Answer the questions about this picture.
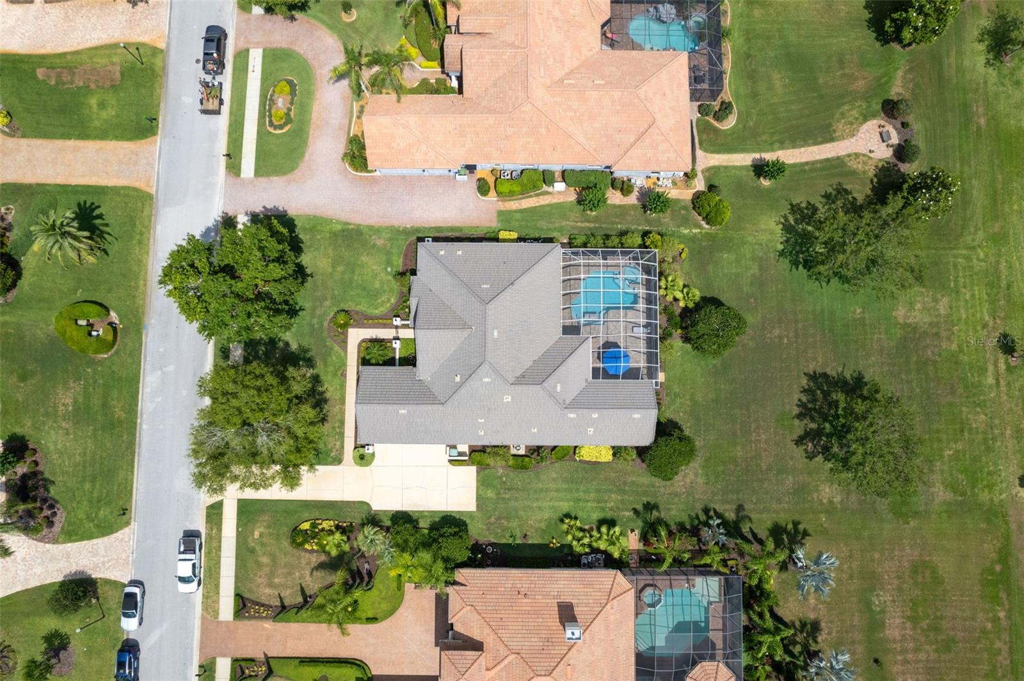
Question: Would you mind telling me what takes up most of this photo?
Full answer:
The scene is dominated by grass.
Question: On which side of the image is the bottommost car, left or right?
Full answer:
The bottommost car sits on the left side.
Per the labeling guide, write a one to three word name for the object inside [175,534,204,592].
truck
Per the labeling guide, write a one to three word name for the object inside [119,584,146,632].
car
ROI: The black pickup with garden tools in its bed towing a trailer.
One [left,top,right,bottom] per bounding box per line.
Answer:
[202,23,229,78]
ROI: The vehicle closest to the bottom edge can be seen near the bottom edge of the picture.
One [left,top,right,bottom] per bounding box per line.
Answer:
[112,645,140,681]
